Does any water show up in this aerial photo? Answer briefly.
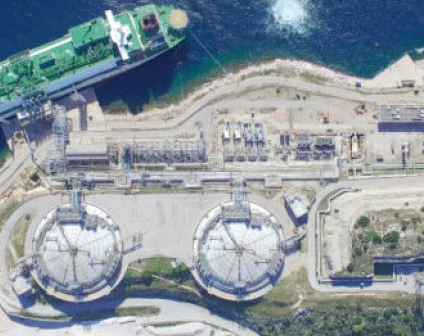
Yes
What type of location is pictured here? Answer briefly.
industrial area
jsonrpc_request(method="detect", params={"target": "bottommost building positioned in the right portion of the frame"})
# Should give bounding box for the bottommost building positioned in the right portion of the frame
[287,193,310,223]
